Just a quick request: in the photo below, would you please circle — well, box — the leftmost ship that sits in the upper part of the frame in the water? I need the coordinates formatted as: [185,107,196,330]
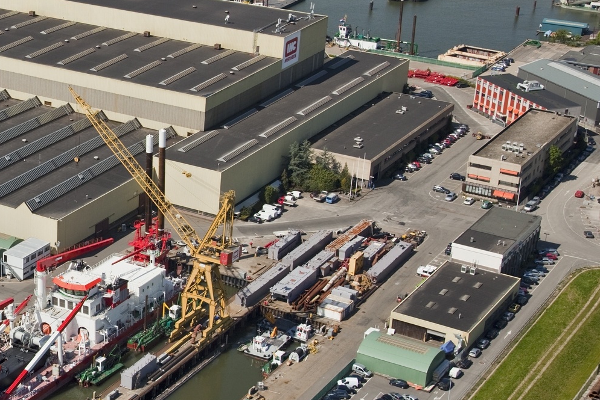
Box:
[331,0,418,54]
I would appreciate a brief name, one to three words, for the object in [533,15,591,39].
building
